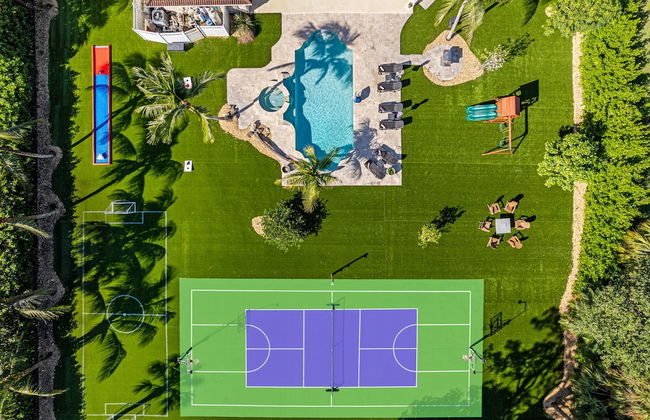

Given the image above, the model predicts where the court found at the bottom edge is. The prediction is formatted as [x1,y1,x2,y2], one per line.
[180,279,484,417]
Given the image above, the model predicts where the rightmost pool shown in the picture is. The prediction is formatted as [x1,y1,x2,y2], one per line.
[281,27,355,172]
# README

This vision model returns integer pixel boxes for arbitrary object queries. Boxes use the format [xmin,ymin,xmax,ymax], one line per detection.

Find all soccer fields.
[83,211,167,416]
